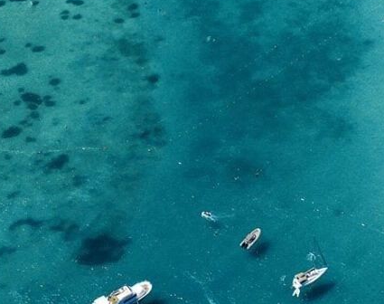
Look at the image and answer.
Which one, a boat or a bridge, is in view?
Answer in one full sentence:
The image shows a boat.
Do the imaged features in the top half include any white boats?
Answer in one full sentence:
No, I see no white boat in the top half.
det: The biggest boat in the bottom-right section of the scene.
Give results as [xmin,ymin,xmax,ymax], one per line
[291,233,326,290]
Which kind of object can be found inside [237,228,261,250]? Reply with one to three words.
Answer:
boat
